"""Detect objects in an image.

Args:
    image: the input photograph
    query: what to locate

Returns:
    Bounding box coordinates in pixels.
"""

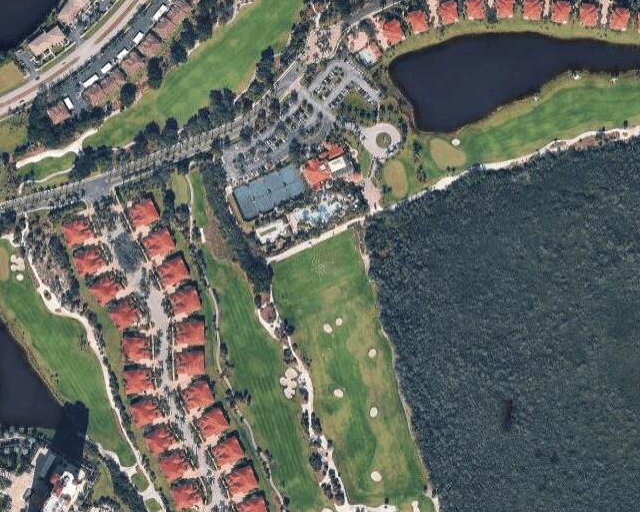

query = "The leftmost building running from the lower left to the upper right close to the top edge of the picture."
[30,25,64,57]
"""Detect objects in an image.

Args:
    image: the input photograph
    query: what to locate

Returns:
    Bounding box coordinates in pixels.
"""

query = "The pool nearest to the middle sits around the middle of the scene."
[293,192,359,227]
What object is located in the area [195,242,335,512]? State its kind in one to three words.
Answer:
golf course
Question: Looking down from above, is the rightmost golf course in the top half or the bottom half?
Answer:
top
